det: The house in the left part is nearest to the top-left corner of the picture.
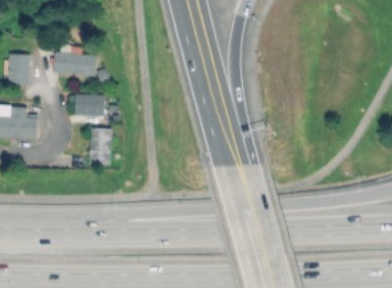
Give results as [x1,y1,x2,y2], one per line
[4,54,30,86]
